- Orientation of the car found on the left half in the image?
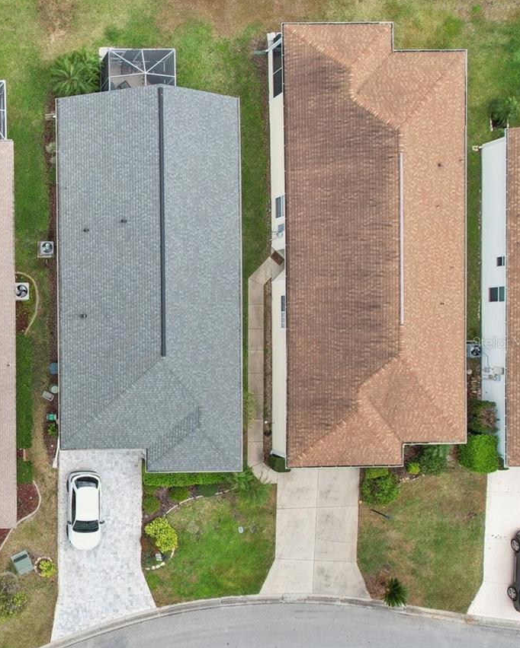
up and down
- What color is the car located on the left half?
white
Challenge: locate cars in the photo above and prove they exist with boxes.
[507,530,520,615]
[65,474,105,552]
